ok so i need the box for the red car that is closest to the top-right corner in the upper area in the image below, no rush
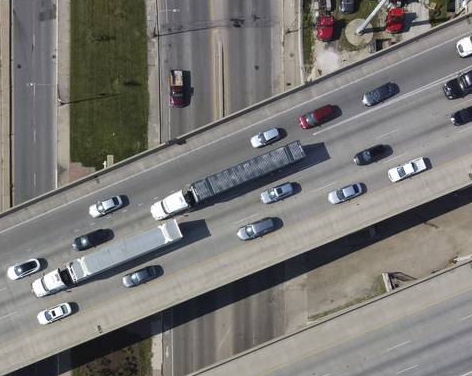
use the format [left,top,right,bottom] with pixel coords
[385,6,403,38]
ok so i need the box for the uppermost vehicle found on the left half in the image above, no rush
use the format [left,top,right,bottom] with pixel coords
[170,69,186,109]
